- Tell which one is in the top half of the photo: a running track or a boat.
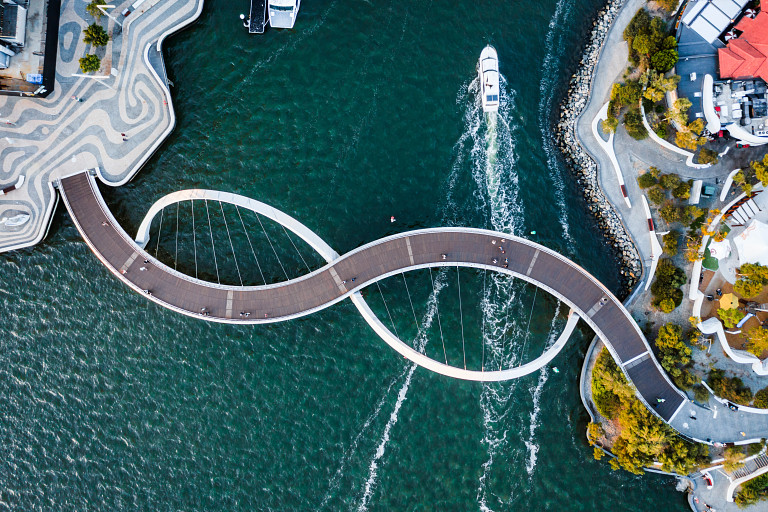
boat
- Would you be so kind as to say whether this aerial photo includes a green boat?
No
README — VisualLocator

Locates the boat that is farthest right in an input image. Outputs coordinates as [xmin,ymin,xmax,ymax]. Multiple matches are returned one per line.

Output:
[482,41,500,114]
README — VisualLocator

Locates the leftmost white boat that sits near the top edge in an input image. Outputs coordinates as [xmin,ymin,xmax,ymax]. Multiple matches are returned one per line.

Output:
[269,0,297,29]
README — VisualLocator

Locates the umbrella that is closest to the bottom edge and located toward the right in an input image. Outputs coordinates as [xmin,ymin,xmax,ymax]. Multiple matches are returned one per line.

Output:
[719,291,740,310]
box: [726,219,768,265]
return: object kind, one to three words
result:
tent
